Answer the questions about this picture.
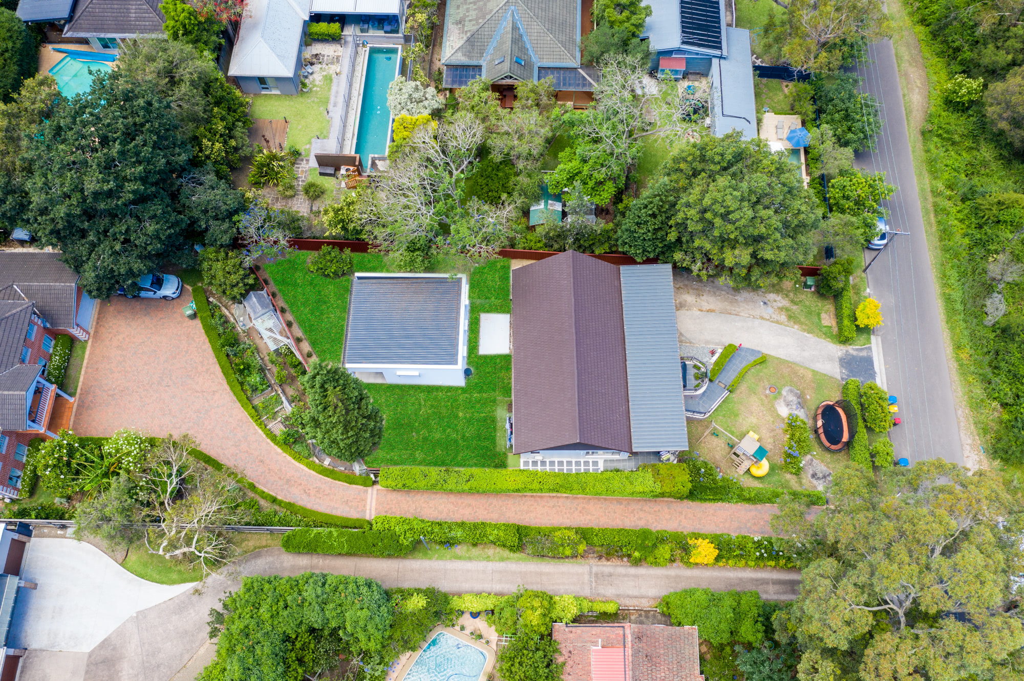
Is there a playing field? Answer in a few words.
No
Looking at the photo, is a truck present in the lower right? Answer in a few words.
No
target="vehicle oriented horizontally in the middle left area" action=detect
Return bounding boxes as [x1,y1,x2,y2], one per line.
[114,269,180,297]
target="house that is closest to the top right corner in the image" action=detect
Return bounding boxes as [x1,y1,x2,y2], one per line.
[641,0,759,158]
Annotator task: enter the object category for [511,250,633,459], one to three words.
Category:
house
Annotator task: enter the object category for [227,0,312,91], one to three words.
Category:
house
